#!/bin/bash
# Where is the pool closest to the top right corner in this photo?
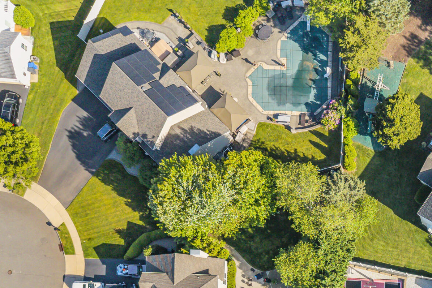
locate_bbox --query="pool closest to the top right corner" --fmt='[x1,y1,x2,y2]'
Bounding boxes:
[242,17,332,115]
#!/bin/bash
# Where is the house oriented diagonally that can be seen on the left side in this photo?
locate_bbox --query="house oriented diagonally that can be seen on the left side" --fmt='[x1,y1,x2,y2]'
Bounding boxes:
[75,25,235,166]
